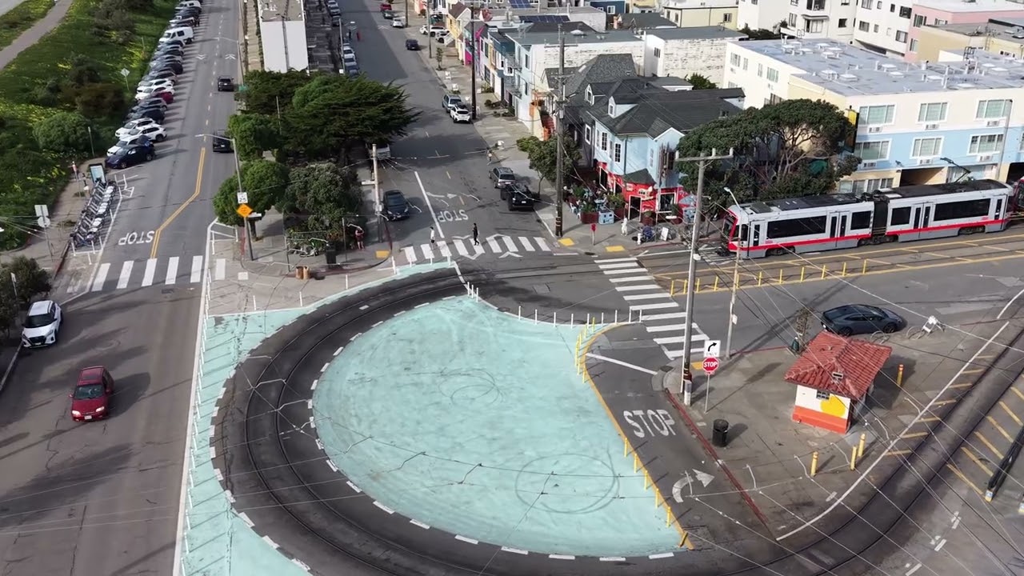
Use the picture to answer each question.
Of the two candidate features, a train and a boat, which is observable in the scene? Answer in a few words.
train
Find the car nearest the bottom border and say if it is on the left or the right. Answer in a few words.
left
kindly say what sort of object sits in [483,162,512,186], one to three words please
car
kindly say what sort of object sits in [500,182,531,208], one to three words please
car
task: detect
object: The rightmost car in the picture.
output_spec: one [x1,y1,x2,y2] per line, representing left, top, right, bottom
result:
[816,302,899,335]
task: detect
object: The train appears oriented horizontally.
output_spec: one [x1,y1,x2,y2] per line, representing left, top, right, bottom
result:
[718,161,1016,255]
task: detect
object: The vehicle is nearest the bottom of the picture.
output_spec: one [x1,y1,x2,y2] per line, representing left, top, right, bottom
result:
[73,364,120,415]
